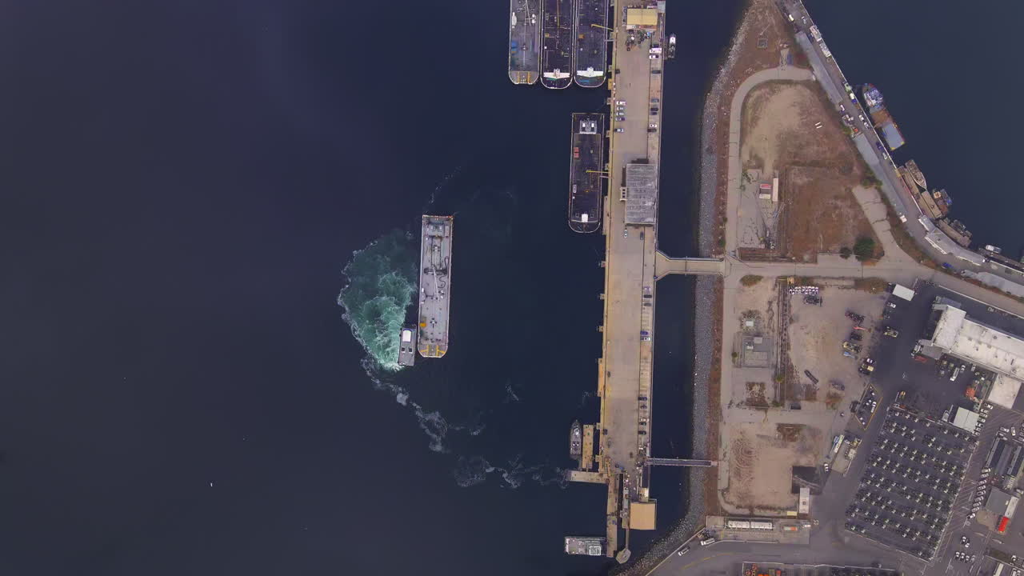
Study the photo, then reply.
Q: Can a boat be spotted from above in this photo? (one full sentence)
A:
Yes, a boat is visible in the scene.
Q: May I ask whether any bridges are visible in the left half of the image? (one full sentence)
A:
No, no bridge appears in the left half of the image.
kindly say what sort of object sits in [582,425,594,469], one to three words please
pier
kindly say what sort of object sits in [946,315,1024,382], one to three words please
building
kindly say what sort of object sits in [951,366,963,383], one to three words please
vehicle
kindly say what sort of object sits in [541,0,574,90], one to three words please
ship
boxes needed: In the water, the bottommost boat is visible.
[565,536,605,555]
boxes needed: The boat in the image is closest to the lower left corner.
[398,325,429,366]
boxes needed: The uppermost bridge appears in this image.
[656,248,725,280]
